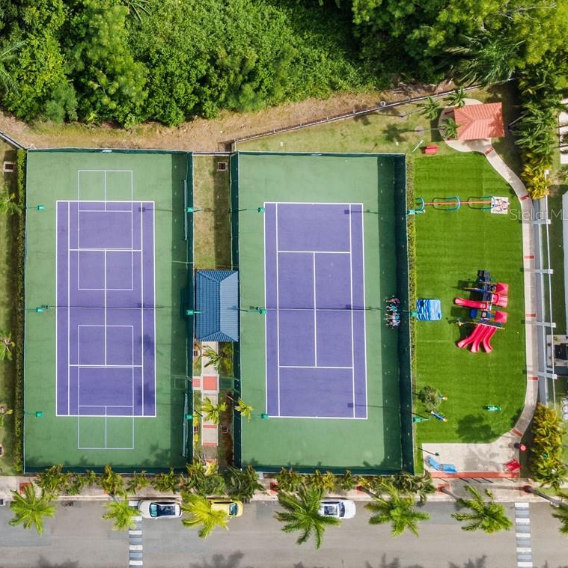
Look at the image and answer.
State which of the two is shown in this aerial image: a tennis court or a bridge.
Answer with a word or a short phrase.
tennis court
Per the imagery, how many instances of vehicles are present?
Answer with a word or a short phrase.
3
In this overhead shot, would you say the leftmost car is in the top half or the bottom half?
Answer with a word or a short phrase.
bottom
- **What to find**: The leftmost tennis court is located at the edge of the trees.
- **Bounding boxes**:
[23,153,186,469]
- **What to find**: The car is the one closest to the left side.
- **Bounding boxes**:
[138,498,181,520]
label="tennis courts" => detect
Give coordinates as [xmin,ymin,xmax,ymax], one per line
[230,155,402,469]
[23,153,186,469]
